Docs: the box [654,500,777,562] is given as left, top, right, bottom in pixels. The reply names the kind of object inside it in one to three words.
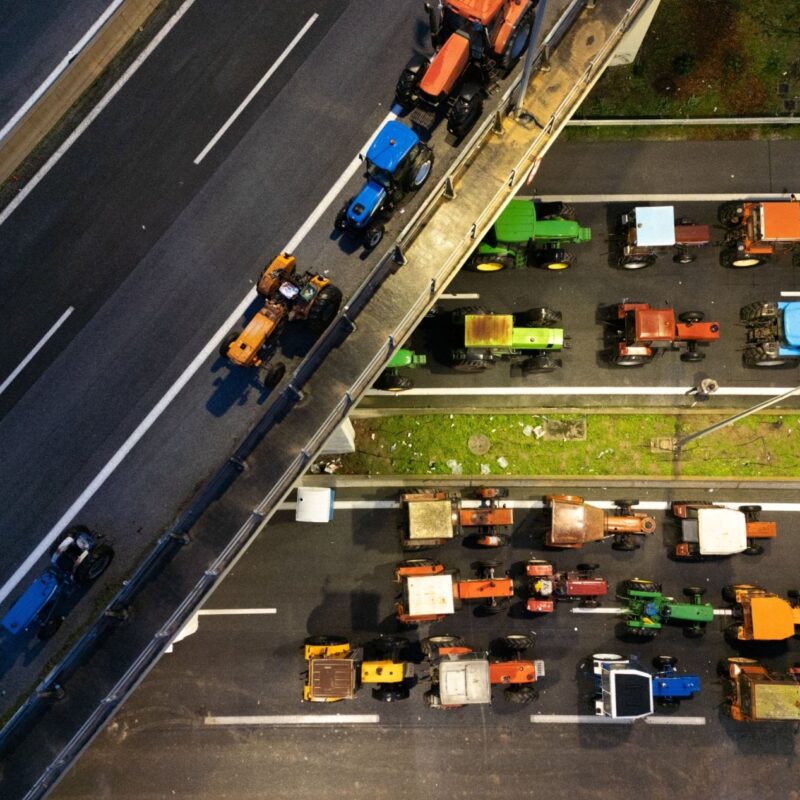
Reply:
work vehicle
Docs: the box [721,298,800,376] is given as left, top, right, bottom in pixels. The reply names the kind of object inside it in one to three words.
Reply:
work vehicle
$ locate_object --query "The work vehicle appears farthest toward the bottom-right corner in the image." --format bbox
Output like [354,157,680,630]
[704,654,800,728]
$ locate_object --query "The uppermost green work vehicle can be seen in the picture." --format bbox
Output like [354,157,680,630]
[466,194,589,280]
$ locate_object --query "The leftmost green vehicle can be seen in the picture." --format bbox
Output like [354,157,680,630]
[377,334,426,395]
